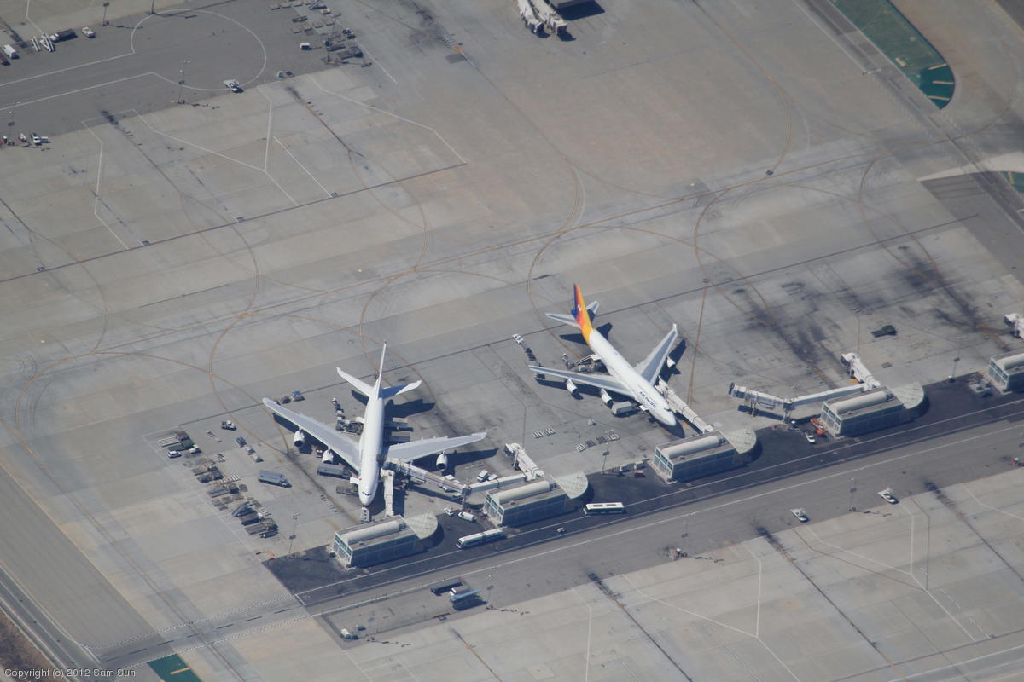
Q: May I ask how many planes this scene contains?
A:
2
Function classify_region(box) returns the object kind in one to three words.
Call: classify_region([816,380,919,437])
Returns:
building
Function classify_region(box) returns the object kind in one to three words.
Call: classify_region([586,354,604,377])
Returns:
work vehicle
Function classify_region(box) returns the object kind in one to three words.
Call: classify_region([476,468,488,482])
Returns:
vehicle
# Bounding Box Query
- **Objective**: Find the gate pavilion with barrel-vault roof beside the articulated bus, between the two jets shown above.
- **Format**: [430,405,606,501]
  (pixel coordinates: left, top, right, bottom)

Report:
[477,469,583,528]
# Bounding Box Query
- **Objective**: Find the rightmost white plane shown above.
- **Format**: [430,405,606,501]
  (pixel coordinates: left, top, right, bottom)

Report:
[523,283,681,426]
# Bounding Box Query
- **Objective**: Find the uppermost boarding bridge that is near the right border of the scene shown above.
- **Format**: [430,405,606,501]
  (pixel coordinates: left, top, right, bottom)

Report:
[998,314,1024,348]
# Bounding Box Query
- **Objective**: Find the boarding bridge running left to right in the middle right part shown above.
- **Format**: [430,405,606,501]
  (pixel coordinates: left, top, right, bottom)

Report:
[724,384,873,423]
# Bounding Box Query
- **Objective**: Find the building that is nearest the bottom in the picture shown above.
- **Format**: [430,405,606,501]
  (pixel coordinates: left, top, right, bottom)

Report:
[327,509,434,568]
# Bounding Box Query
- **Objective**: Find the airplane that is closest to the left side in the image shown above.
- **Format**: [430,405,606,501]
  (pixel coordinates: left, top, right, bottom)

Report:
[263,343,488,509]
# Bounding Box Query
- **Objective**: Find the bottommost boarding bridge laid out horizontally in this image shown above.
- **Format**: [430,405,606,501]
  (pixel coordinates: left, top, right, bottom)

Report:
[377,456,544,510]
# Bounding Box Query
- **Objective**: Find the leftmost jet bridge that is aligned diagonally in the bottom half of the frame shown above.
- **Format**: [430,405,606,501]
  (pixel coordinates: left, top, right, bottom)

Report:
[500,444,541,484]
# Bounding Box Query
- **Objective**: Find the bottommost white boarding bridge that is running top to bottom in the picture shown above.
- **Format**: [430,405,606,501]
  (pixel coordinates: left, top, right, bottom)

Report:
[378,467,402,518]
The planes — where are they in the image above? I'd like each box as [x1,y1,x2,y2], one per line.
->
[263,343,488,509]
[523,283,681,426]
